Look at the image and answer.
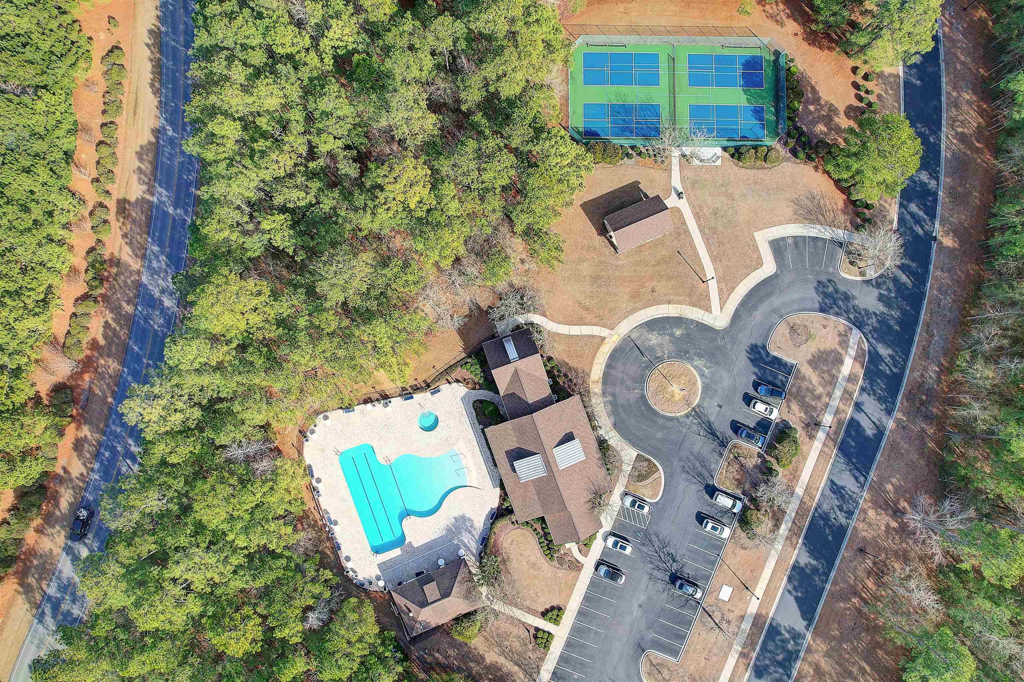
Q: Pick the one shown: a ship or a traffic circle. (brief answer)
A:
traffic circle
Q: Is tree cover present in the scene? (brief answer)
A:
Yes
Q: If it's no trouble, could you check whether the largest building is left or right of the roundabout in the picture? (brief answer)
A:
left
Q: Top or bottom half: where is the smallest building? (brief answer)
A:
top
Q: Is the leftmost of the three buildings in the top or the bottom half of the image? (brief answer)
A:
bottom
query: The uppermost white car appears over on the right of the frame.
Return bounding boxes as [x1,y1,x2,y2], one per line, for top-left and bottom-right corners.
[751,400,780,418]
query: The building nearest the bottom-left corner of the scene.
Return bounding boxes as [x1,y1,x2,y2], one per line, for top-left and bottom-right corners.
[389,560,486,638]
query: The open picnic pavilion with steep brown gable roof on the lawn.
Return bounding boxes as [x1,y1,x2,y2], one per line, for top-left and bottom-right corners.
[604,194,673,254]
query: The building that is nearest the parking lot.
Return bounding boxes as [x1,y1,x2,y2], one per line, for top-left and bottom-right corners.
[482,326,614,551]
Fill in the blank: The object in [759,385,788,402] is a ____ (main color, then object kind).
blue car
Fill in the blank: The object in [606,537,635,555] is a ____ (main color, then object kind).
white car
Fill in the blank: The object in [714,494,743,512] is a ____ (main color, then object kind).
white car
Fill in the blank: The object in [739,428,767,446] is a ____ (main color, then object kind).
blue car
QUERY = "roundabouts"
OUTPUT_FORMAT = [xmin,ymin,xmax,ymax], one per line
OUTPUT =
[645,360,701,416]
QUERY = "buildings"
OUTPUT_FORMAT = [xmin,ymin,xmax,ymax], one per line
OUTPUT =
[389,560,486,638]
[604,194,673,254]
[482,326,614,551]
